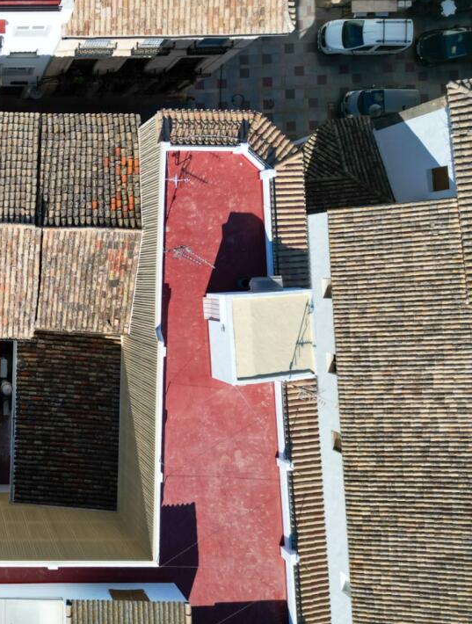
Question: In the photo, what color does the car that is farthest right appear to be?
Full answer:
From above, the car that is farthest right appears black.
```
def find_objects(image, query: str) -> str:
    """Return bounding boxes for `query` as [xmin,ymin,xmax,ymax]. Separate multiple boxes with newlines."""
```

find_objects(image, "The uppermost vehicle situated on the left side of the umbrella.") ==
[316,13,416,59]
